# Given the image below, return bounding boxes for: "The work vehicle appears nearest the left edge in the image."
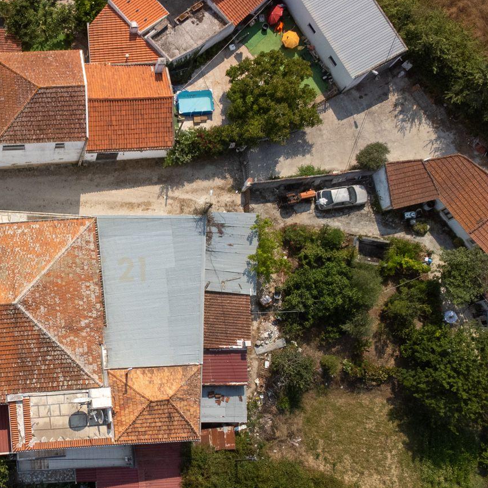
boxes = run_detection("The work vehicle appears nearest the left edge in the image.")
[279,188,316,209]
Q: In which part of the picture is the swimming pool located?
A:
top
